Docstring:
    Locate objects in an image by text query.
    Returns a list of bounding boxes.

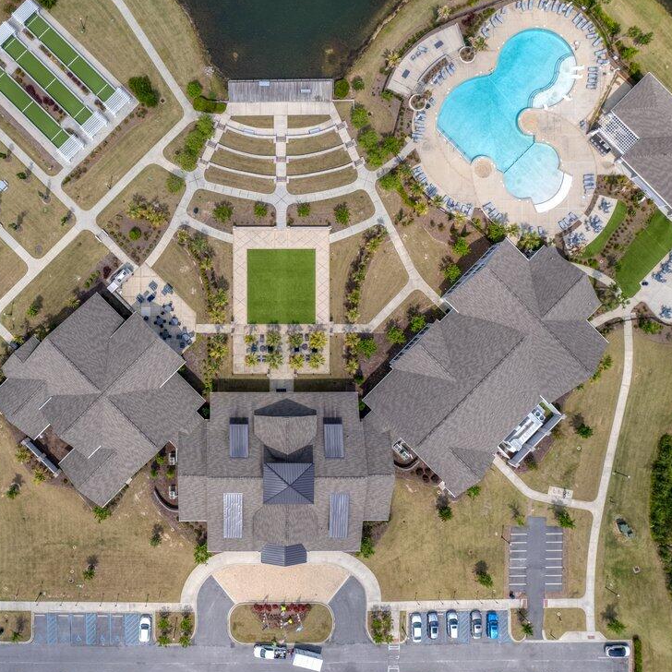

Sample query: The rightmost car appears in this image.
[604,643,629,657]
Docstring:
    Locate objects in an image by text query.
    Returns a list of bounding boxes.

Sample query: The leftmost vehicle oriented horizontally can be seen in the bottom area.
[254,645,287,660]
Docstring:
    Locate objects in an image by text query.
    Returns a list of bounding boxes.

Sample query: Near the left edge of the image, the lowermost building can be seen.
[0,292,206,508]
